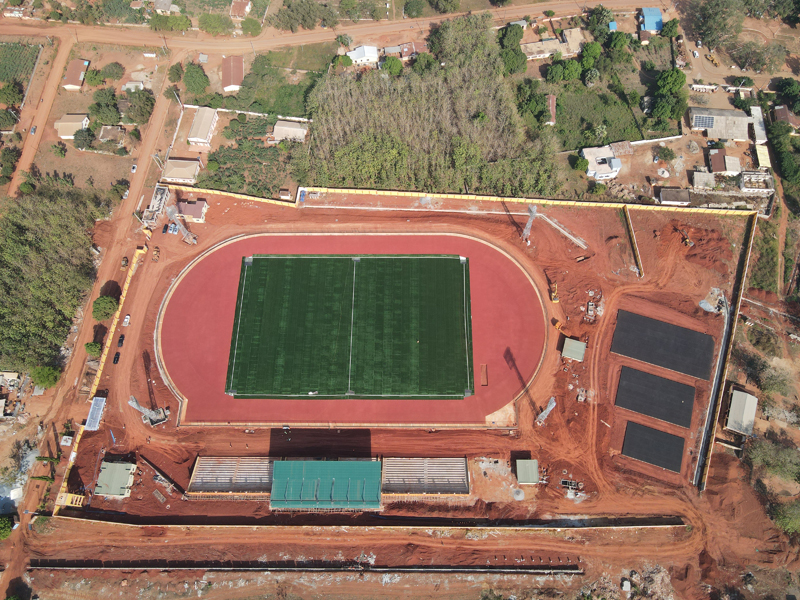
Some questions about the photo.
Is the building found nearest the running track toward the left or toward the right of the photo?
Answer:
right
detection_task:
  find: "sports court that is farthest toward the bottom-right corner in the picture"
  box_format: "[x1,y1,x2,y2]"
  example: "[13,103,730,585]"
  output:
[622,420,684,474]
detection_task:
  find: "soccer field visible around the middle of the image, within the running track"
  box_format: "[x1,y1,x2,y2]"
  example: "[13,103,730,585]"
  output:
[225,253,474,401]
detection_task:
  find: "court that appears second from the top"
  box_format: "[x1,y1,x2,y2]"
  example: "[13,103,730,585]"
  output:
[615,366,695,429]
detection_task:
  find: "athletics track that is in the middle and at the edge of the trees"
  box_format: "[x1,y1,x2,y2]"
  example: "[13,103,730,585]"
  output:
[152,230,554,433]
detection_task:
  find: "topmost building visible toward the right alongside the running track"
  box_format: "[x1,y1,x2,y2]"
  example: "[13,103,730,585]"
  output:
[561,338,587,365]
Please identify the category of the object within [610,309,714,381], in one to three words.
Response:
sports court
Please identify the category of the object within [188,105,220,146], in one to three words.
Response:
house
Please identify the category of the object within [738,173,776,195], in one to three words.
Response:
building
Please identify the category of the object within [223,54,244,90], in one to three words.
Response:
house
